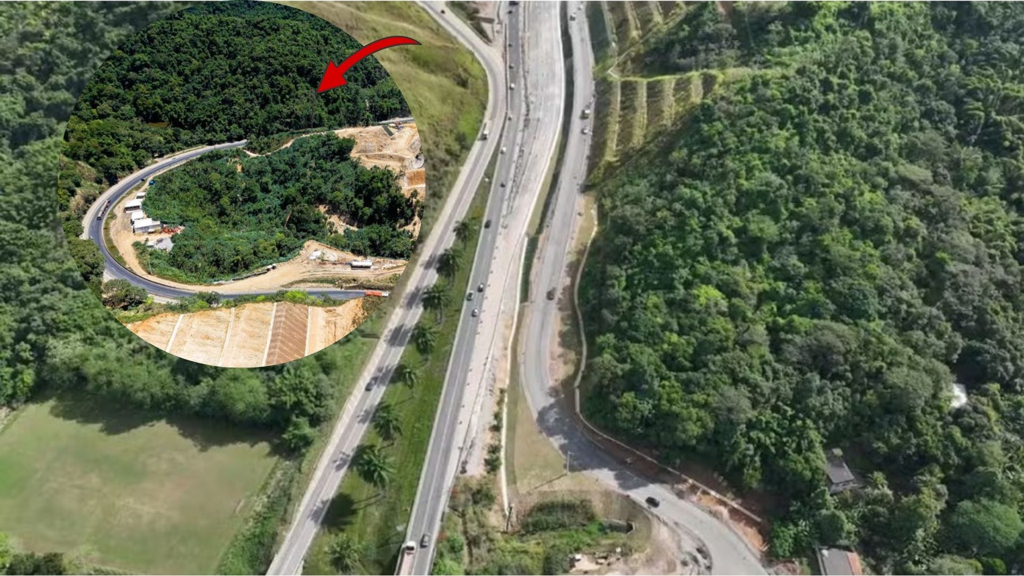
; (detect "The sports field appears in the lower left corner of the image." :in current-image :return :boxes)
[0,397,282,576]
